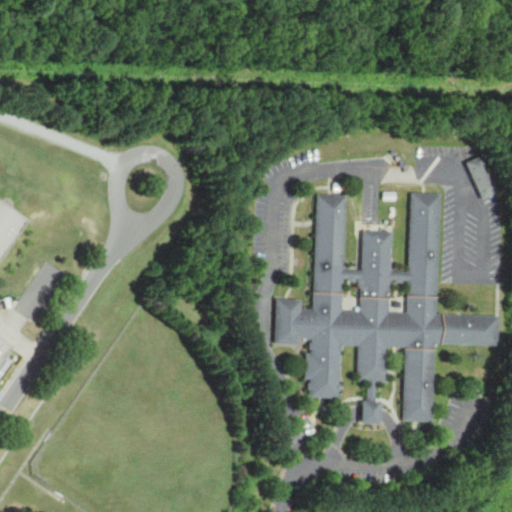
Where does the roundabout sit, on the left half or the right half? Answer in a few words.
left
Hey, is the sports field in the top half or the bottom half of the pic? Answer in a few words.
bottom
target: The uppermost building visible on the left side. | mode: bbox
[0,198,28,262]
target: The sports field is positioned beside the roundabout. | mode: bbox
[30,308,233,512]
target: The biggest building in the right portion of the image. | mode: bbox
[275,194,500,424]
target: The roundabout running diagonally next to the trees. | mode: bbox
[0,146,185,426]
